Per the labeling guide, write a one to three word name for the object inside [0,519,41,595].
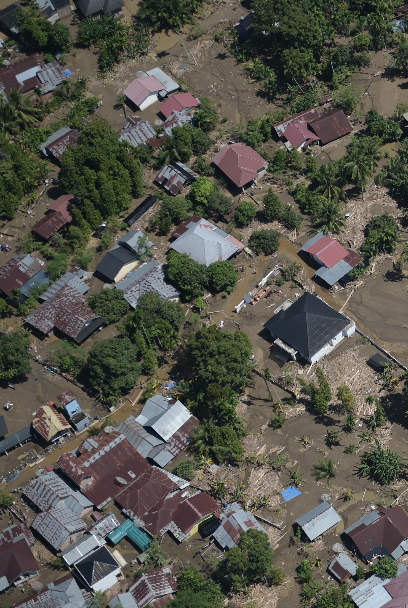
house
